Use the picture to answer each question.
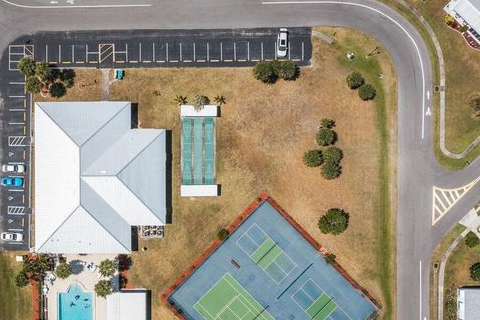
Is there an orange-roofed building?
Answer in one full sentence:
No, the picture doesn't show any orange-roofed building.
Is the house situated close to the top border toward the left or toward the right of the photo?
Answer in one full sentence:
The house situated close to the top border appears in the right half of the scene.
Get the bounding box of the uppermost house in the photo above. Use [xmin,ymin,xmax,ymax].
[449,0,480,40]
